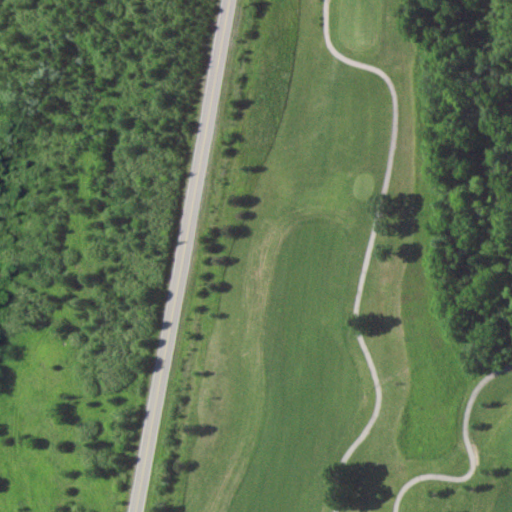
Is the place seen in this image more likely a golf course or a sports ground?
golf course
